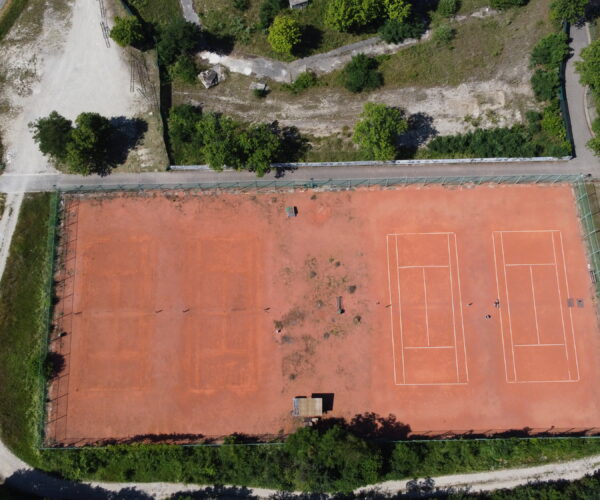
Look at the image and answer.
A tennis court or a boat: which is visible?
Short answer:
tennis court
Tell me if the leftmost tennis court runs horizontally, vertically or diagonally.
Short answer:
vertically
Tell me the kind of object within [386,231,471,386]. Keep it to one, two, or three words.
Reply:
tennis court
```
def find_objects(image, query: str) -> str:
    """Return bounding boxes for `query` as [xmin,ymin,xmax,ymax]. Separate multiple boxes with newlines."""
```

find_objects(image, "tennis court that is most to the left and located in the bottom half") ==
[73,237,157,392]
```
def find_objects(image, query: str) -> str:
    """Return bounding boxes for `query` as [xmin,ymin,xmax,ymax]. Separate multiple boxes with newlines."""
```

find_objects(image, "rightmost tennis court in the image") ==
[491,228,581,383]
